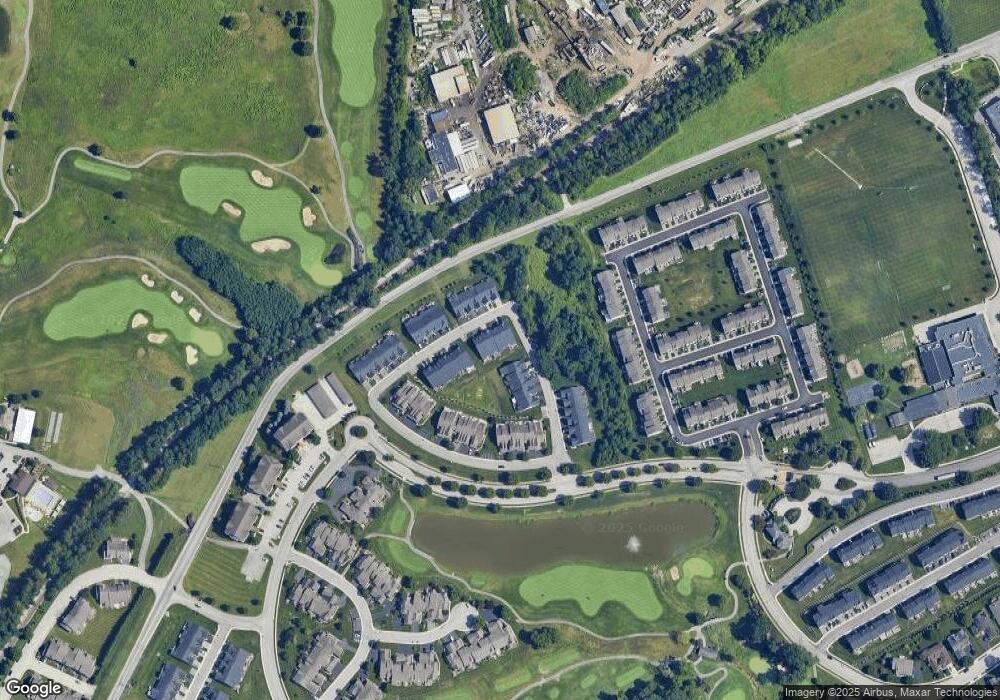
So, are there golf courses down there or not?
Yes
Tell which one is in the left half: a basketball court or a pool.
pool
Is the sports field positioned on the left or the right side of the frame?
right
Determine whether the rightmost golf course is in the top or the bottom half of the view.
bottom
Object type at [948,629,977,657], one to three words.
house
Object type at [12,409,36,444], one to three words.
barn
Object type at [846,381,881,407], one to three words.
basketball court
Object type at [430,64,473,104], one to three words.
building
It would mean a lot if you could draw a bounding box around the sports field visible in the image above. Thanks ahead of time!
[782,105,987,349]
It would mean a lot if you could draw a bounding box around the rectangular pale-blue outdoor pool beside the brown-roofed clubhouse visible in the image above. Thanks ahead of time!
[25,480,63,516]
